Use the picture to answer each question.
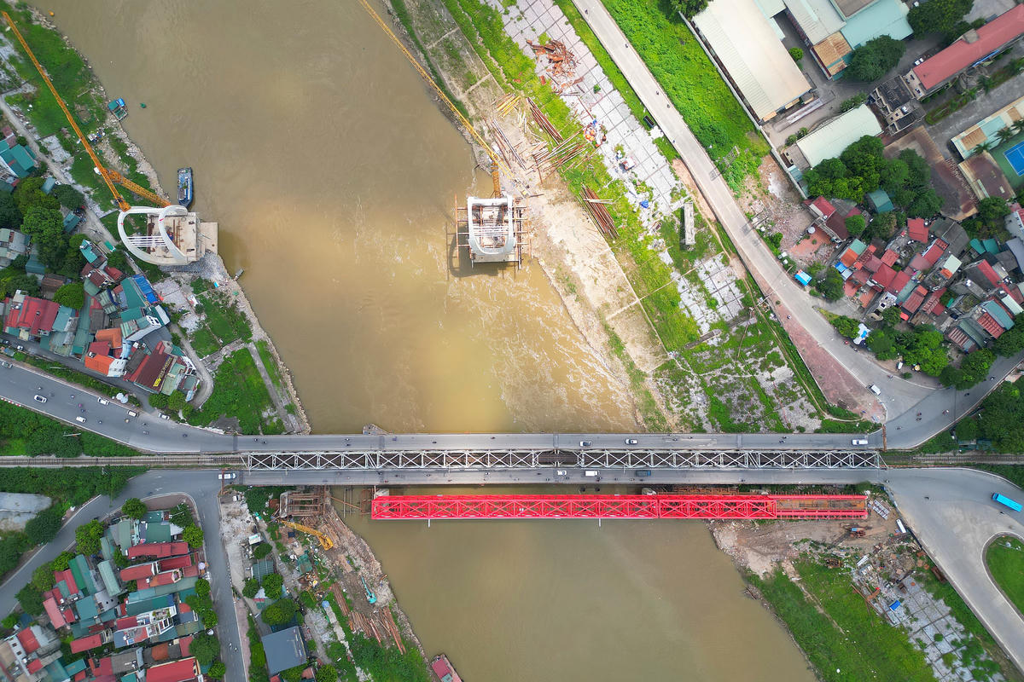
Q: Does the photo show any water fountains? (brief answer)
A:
No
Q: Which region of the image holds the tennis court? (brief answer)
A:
top right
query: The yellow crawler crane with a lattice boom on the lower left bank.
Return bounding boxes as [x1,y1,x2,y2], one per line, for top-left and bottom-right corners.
[280,514,338,556]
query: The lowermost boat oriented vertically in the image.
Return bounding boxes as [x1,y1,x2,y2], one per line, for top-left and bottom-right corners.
[177,167,192,206]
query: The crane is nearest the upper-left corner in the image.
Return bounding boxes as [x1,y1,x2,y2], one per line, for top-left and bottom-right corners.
[0,5,176,219]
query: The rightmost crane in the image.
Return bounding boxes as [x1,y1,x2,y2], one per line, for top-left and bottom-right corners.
[356,0,528,204]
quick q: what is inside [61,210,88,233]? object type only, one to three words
house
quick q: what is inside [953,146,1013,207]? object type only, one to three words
building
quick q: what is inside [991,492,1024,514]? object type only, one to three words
truck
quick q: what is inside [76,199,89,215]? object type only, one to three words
vehicle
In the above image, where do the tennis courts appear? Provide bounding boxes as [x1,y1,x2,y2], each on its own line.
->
[988,130,1024,199]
